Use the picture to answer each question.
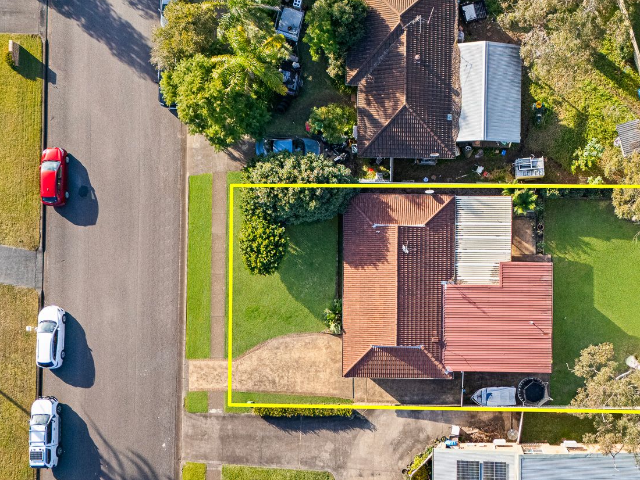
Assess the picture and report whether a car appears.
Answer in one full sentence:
Yes, a car is visible in the scene.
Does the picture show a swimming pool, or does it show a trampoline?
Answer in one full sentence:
Visible in the photo is a trampoline.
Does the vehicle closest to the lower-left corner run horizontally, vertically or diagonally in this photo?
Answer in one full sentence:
The vehicle closest to the lower-left corner is oriented vertically.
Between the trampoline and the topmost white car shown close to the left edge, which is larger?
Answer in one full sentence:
Compared with the trampoline, the car is the bigger one.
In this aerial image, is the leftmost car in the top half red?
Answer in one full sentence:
Yes, the leftmost car in the top half is indeed red.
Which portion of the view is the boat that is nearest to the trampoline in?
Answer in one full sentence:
The boat that is nearest to the trampoline is in the bottom right part of the image.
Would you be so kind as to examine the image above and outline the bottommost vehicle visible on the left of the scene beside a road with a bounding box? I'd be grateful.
[23,396,63,472]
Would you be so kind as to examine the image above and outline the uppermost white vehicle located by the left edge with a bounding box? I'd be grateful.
[29,308,66,370]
